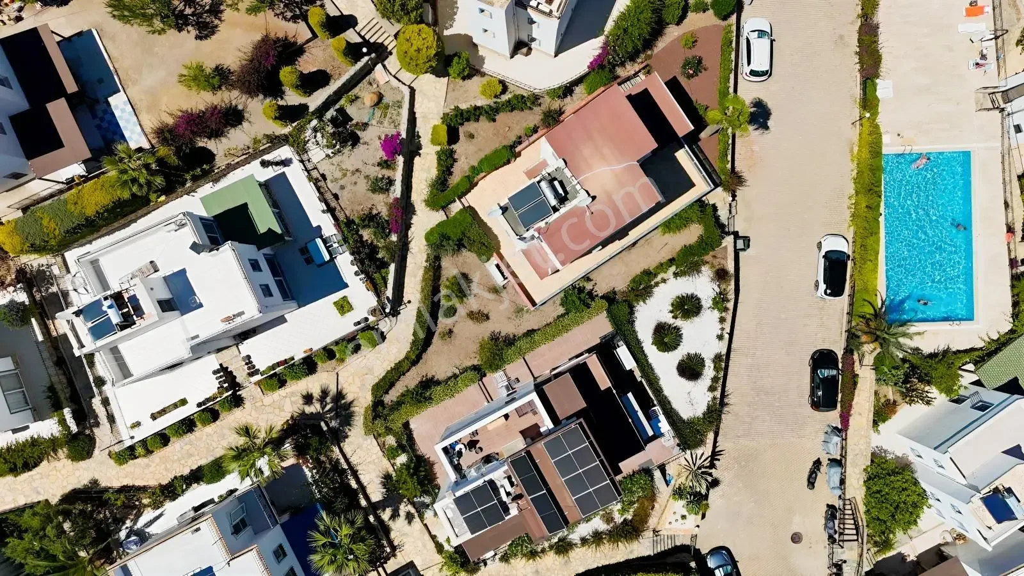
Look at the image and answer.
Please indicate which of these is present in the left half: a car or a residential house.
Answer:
residential house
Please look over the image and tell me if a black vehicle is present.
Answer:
Yes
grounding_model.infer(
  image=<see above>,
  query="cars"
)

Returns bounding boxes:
[705,542,742,576]
[739,19,775,83]
[812,234,851,298]
[805,349,842,410]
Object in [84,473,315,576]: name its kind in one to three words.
house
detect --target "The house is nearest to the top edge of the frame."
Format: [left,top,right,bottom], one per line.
[466,0,583,57]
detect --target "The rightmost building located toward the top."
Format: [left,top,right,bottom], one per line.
[966,75,1024,213]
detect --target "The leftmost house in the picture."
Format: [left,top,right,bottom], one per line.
[0,369,40,439]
